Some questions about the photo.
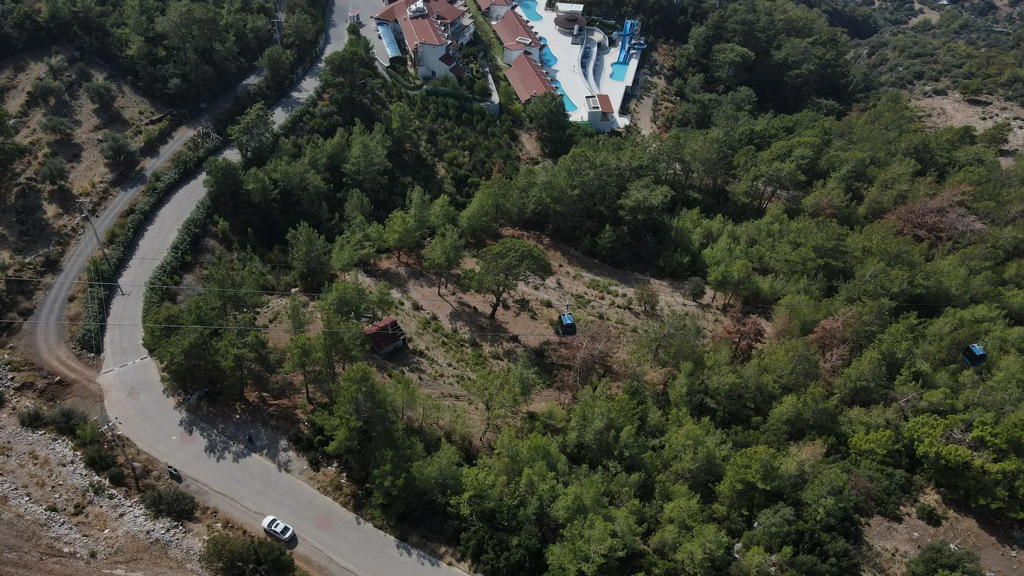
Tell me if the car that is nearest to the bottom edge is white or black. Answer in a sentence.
In this view, the car that is nearest to the bottom edge is white.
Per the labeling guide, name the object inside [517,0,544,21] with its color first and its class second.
blue swimming pool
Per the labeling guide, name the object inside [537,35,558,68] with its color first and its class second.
blue swimming pool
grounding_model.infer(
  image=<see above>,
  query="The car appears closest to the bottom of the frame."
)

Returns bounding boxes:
[260,514,293,539]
